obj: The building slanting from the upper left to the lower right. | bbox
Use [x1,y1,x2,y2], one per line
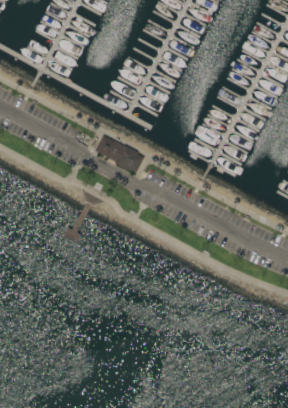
[96,134,144,175]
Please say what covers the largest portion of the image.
water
